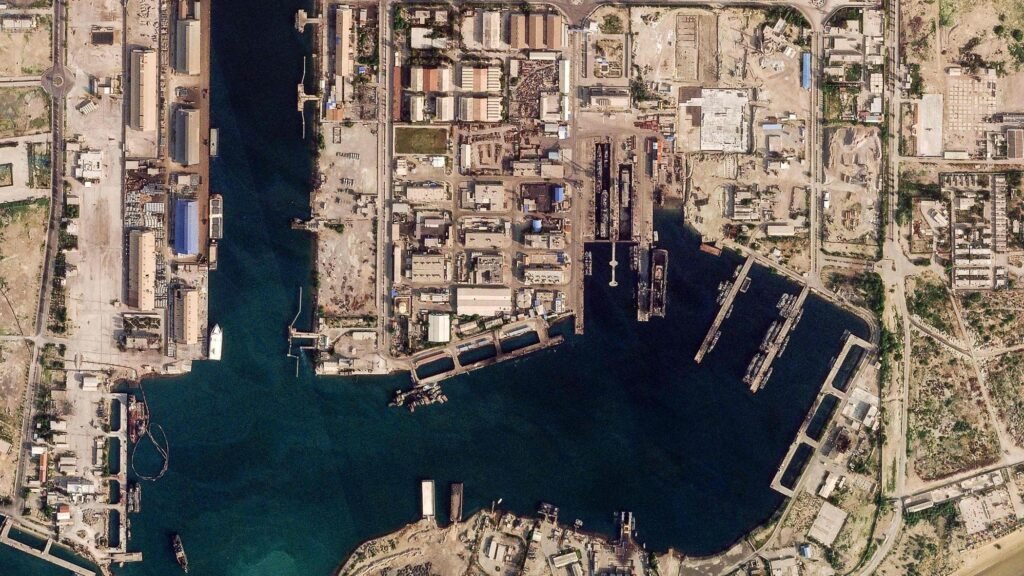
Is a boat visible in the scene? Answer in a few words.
Yes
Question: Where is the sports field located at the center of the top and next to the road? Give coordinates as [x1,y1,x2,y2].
[391,125,449,155]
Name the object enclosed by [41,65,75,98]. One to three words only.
roundabout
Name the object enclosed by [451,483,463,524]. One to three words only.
pier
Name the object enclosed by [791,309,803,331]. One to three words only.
boat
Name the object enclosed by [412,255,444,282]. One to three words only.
building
